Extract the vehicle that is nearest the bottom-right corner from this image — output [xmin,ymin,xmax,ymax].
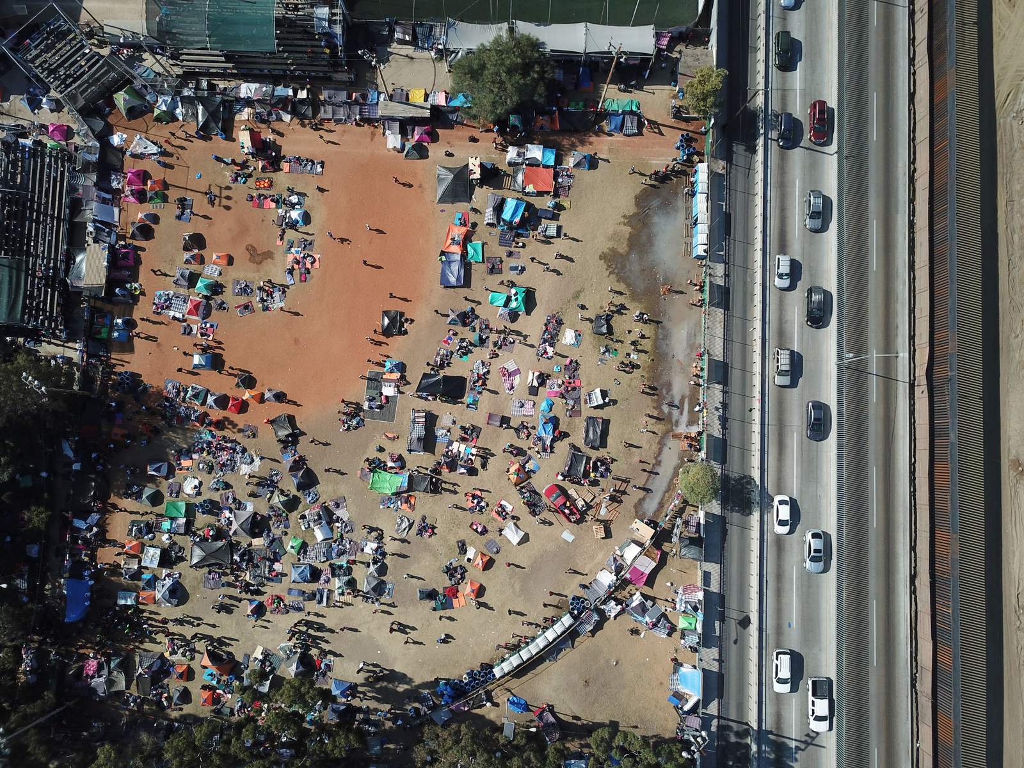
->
[806,673,830,731]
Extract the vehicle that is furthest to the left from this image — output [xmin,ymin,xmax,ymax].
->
[544,483,584,526]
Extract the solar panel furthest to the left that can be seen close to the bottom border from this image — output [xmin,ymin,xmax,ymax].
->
[501,721,516,744]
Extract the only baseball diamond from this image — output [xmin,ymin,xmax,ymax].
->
[78,107,707,741]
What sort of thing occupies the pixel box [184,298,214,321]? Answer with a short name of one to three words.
tent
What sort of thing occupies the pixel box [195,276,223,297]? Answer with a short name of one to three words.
tent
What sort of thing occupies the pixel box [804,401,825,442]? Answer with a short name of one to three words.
car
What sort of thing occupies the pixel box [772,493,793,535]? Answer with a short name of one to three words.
car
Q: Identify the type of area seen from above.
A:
sports ground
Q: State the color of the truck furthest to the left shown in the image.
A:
red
